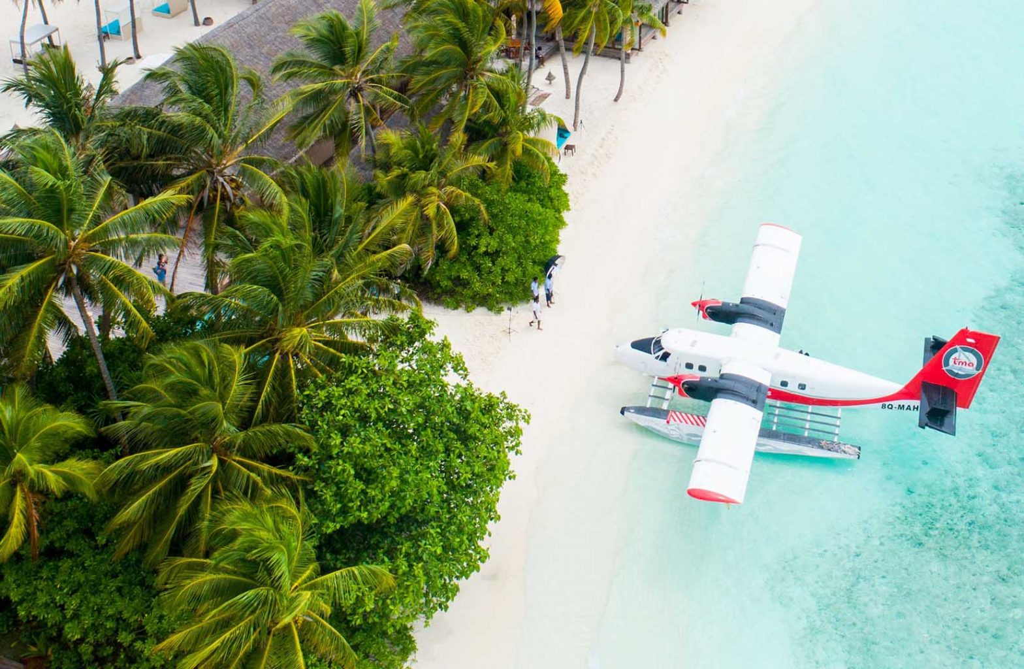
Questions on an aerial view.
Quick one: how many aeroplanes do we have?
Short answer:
1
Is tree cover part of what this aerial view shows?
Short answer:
Yes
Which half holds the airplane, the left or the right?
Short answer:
right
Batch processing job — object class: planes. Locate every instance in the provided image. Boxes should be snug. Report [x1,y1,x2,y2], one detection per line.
[614,224,999,507]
